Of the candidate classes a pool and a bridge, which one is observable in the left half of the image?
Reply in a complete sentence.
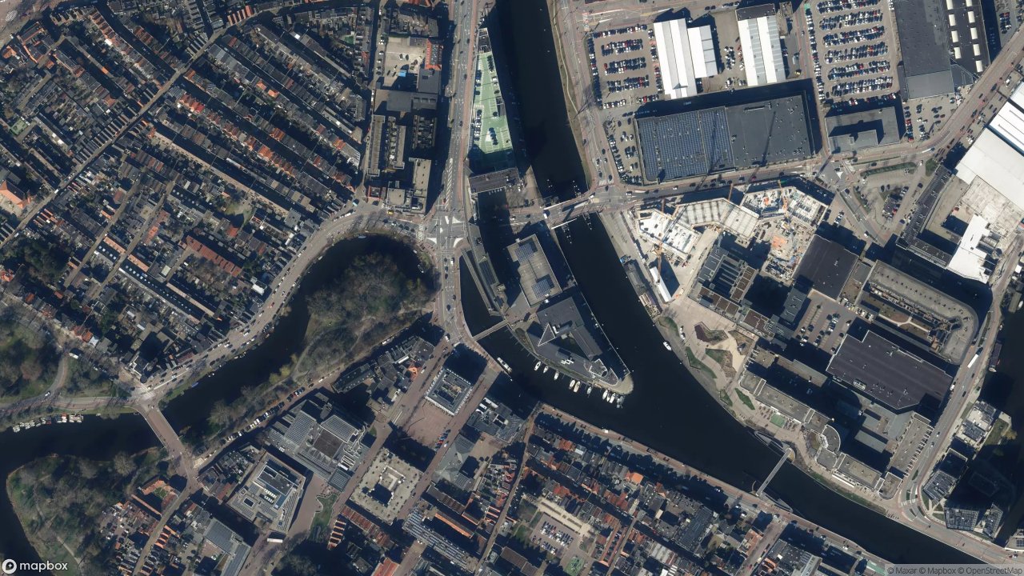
You can see a bridge in the left half of the image.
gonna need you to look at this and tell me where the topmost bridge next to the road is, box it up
[542,189,597,229]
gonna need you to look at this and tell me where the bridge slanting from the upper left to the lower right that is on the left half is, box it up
[134,395,193,466]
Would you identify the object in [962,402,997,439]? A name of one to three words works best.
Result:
building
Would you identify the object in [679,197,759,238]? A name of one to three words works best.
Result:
building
